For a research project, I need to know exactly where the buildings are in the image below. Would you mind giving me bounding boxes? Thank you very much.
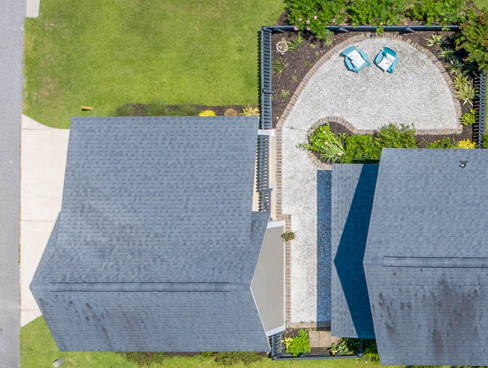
[330,148,488,367]
[32,117,286,352]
